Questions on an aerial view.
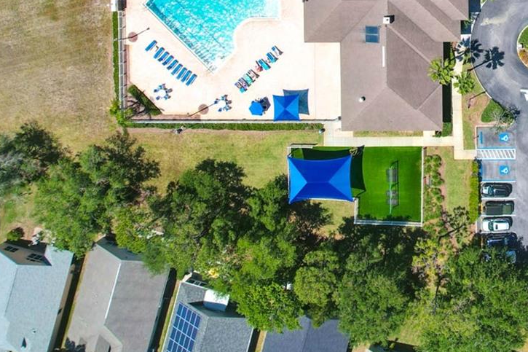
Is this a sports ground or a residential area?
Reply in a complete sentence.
This looks like a residential area.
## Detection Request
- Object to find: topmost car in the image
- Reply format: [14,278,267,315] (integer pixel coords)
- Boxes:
[482,183,511,197]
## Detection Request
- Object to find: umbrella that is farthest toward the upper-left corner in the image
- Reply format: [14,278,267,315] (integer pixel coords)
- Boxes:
[249,100,264,114]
